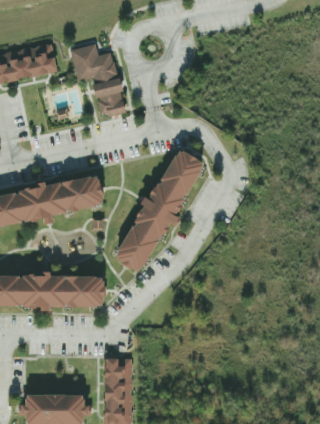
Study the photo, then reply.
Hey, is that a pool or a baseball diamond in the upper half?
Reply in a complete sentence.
What appears in the upper half is a pool.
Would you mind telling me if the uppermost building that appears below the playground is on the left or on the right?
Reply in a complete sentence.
The uppermost building that appears below the playground is on the left side of the image.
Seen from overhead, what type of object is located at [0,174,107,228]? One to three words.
building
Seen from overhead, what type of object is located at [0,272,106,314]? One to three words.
building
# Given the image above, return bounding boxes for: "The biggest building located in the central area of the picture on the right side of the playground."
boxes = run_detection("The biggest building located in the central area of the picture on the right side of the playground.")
[115,152,206,272]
